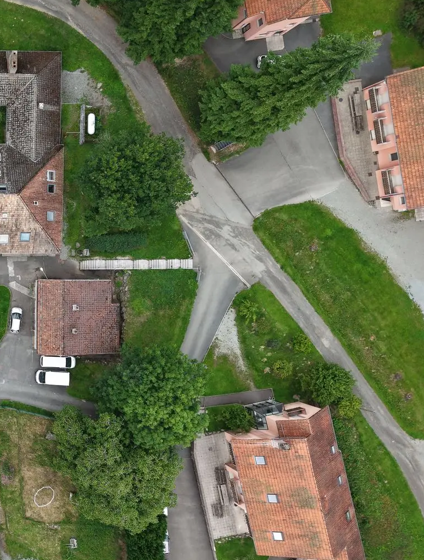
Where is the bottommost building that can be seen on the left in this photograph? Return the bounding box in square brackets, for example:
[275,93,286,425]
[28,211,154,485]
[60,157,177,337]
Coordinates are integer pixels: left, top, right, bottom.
[34,279,122,355]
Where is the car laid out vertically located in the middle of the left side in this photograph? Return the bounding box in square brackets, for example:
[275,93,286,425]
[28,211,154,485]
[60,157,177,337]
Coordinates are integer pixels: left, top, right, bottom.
[10,308,24,332]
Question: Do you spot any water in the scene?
No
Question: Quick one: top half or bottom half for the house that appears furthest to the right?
top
